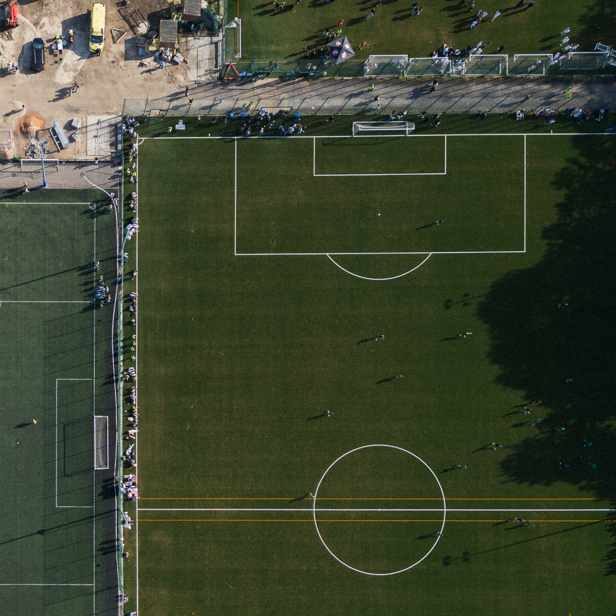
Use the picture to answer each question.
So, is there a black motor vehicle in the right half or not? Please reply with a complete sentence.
No, the scene shows no black motor vehicle in the right half.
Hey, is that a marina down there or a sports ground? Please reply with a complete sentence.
The picture captures a sports ground.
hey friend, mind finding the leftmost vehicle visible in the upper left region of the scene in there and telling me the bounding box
[4,0,21,27]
